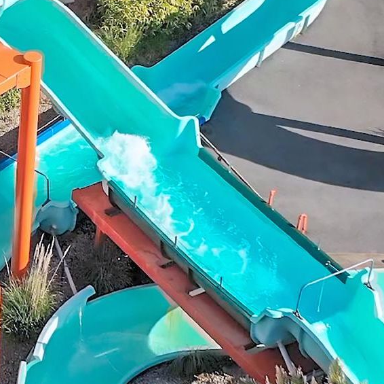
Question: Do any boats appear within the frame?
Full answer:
No, the frame has no boat in it.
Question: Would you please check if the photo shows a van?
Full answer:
No, there is no van in the image.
